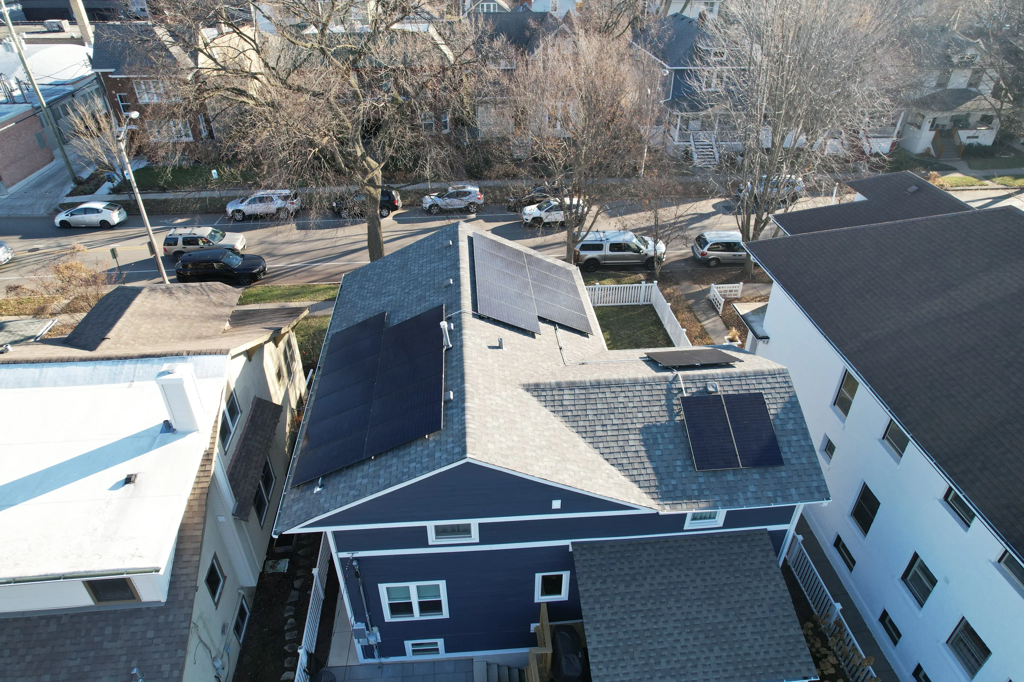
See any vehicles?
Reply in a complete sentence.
Yes, a vehicle can be made out from above.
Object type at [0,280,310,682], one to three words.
house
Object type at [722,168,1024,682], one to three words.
house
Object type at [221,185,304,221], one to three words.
car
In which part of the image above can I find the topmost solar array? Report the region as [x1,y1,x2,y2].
[472,234,593,336]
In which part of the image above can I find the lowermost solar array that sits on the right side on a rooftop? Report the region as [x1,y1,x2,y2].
[678,393,785,472]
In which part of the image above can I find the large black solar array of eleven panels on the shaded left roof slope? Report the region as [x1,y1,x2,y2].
[291,303,445,489]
